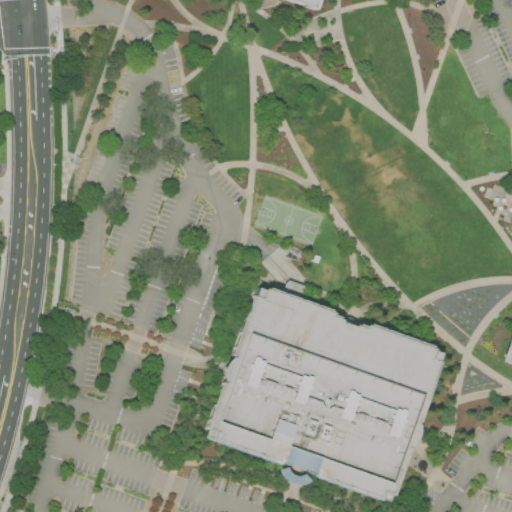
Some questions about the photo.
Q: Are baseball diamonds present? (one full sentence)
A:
No, I can see no baseball diamond in this picture.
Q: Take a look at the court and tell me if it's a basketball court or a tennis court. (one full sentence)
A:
It turns out the court is a basketball court.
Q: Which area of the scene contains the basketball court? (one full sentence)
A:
The basketball court is located in the center region of the scene.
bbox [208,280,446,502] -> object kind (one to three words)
building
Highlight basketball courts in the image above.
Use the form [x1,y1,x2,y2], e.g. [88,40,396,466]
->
[256,195,322,245]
